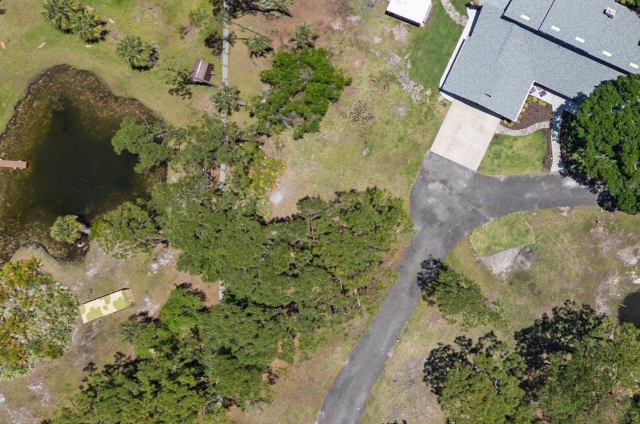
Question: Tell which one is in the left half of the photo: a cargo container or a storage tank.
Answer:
cargo container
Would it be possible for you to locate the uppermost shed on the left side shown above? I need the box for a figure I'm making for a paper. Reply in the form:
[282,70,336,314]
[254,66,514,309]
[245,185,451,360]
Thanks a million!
[190,59,219,80]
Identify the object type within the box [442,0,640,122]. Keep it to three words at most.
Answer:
house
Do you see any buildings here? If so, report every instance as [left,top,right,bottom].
[442,0,640,122]
[190,59,219,80]
[385,0,434,30]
